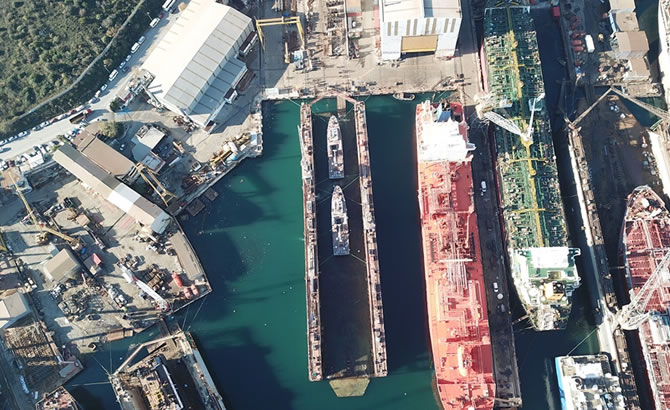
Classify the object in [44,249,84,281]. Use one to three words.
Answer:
shed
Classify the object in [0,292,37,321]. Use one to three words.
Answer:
shed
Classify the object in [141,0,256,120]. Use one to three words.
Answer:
building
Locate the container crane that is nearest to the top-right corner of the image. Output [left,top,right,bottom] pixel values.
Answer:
[480,95,525,147]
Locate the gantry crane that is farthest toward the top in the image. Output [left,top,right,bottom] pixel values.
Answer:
[254,13,304,52]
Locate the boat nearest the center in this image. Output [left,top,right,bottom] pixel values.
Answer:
[330,184,349,256]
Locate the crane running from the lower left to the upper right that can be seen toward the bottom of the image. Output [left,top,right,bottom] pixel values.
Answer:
[607,248,670,330]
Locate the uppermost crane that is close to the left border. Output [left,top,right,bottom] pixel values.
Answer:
[6,169,47,243]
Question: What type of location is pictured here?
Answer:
port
